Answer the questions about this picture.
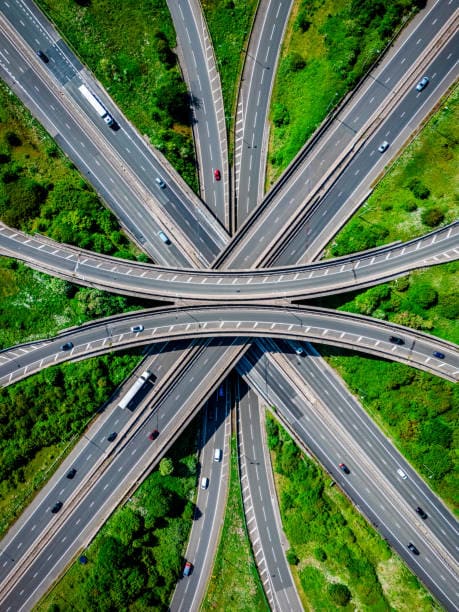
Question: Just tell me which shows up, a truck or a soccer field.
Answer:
truck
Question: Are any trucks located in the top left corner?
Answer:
Yes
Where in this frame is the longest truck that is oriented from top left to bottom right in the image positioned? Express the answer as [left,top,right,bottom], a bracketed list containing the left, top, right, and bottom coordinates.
[78,84,114,127]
